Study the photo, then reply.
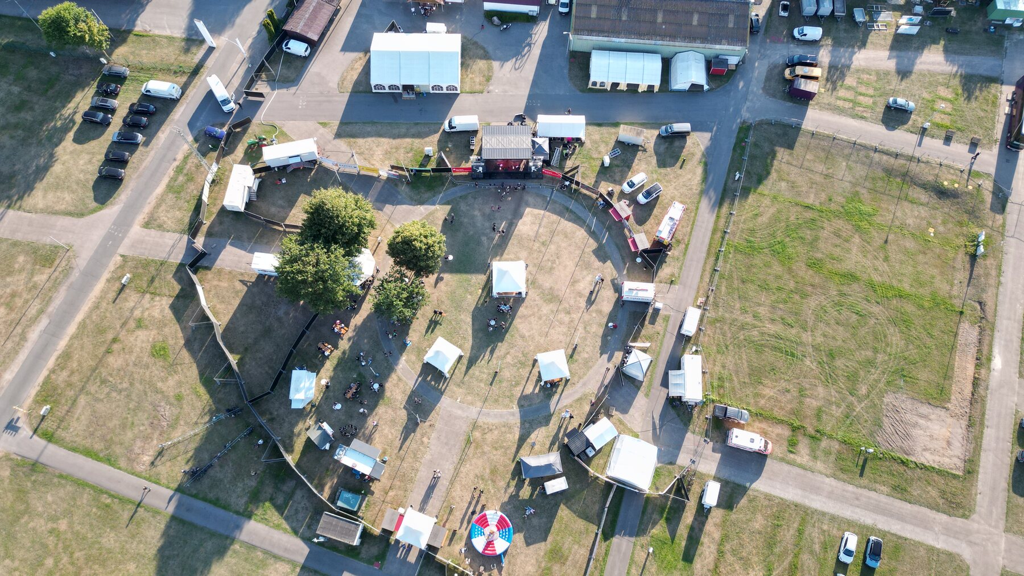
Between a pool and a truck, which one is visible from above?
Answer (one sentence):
Looking from above, you can make out a truck.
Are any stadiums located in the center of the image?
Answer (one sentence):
No, no stadium is visible in the center of the image.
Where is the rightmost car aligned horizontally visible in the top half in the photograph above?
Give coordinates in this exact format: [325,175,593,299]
[885,98,915,114]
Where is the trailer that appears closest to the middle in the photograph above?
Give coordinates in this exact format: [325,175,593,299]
[620,280,659,302]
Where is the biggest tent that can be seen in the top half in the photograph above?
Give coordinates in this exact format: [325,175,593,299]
[369,32,462,101]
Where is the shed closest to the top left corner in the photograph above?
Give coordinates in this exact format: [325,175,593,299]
[283,0,348,46]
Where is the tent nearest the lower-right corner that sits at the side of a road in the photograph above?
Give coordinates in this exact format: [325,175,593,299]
[599,434,658,492]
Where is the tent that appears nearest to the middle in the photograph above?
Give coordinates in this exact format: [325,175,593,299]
[489,261,530,302]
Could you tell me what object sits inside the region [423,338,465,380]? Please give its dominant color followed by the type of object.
white tent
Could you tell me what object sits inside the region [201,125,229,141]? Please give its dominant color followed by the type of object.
blue car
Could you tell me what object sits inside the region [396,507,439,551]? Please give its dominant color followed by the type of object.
white tent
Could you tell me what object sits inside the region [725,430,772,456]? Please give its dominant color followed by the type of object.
white vehicle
